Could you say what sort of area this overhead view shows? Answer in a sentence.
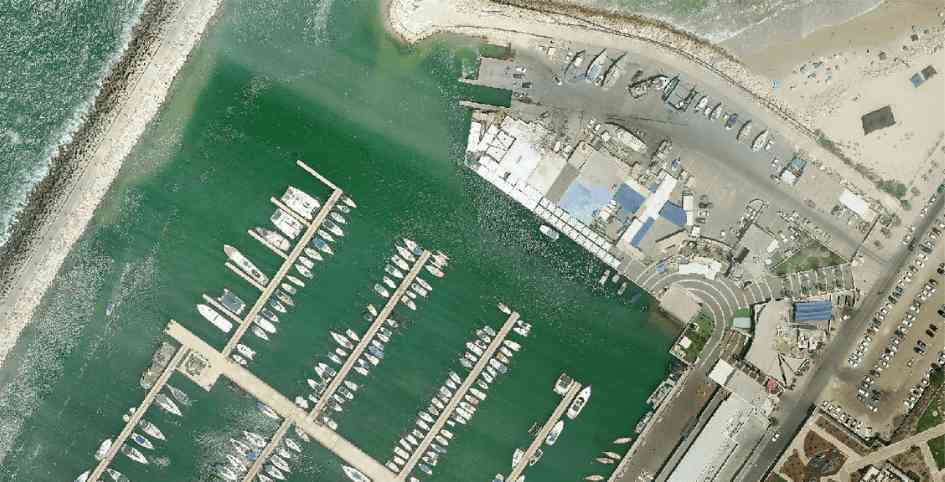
The area seen from above is a port.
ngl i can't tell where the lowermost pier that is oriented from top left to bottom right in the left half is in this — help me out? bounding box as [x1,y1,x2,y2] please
[165,319,403,482]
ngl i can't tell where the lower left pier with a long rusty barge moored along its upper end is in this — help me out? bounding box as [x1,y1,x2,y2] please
[88,349,186,482]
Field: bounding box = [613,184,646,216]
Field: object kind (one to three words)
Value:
building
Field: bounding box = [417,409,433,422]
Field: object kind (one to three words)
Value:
boat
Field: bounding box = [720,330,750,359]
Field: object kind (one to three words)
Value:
building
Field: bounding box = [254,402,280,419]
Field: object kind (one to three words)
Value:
boat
